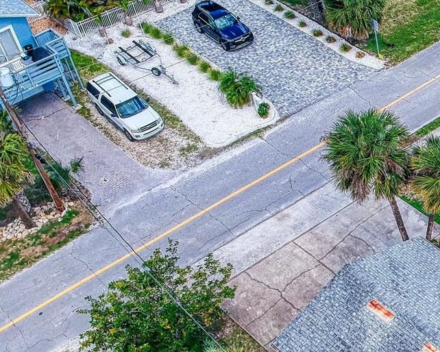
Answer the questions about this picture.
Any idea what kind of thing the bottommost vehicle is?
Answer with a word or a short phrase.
car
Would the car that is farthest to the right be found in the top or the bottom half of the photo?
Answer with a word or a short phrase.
top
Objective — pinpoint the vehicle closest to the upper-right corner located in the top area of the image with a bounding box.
[187,0,258,52]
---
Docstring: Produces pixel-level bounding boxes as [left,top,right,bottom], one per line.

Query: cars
[187,0,258,52]
[84,67,169,142]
